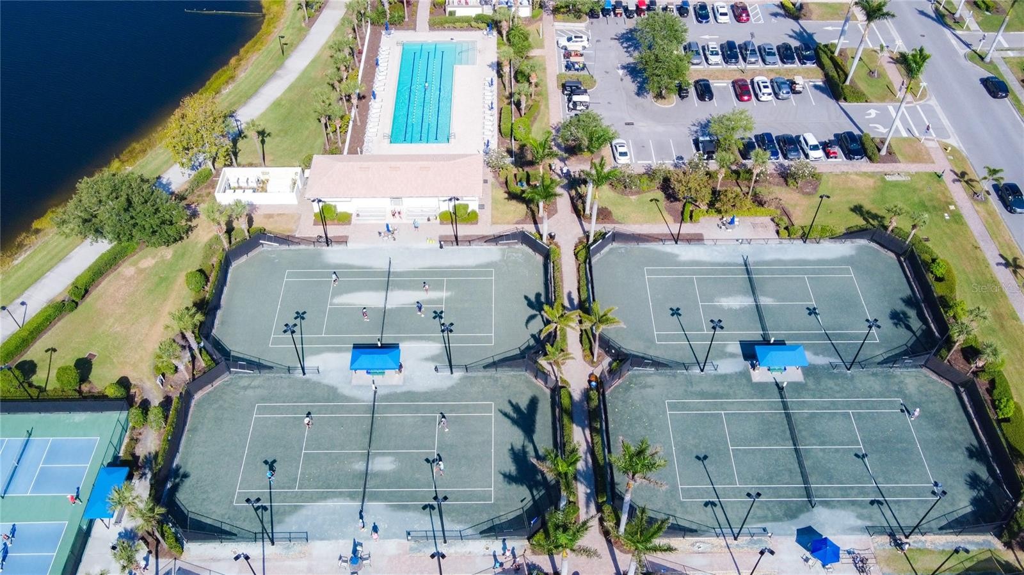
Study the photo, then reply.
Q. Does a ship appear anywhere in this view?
No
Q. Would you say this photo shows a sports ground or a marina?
sports ground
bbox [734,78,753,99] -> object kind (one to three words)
car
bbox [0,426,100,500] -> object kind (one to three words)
sports court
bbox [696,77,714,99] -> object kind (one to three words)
car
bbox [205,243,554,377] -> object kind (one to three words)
tennis court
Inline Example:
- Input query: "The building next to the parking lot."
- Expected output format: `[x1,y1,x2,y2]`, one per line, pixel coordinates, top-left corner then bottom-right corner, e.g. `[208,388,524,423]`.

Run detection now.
[304,154,483,212]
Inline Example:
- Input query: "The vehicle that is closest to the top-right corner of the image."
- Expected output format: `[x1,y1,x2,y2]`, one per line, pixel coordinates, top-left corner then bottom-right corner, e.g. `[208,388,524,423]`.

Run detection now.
[982,74,1014,95]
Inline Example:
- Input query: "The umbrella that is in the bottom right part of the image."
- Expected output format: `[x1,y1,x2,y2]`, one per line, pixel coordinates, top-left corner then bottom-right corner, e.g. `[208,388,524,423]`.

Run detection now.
[815,530,846,560]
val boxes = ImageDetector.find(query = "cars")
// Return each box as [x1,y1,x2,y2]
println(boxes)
[723,39,741,62]
[695,2,711,21]
[794,39,814,63]
[696,77,714,99]
[801,130,824,158]
[760,129,781,157]
[612,137,629,161]
[734,78,753,99]
[841,129,865,157]
[776,42,794,62]
[760,42,778,63]
[733,0,751,19]
[686,39,704,63]
[773,76,792,97]
[781,130,804,158]
[737,129,758,157]
[982,74,1014,95]
[755,78,774,99]
[742,39,761,62]
[996,177,1024,208]
[704,39,722,63]
[714,3,730,21]
[558,33,590,49]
